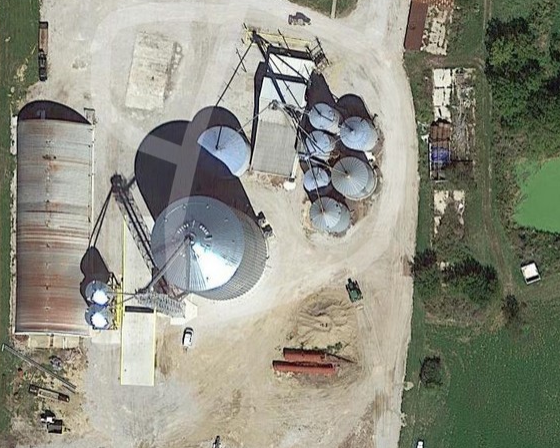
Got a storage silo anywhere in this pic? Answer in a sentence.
Yes, the frame does contain a storage silo.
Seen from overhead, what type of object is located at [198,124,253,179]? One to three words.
silo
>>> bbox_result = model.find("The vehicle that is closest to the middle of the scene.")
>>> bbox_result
[348,276,362,300]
